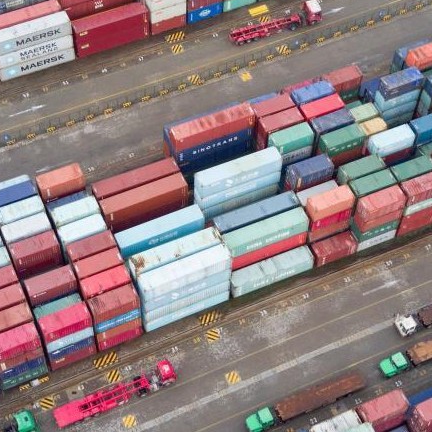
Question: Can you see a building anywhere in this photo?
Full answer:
No, no building can be seen from above.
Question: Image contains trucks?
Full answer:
Yes, there is a truck in the image.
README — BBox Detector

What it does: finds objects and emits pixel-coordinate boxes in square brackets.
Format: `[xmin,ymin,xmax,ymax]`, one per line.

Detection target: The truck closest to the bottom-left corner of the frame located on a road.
[4,410,38,432]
